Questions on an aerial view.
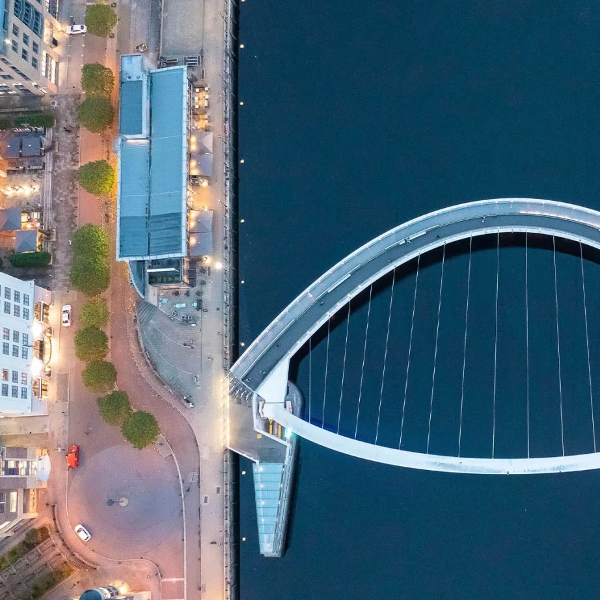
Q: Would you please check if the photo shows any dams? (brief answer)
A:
No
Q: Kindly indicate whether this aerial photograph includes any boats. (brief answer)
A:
No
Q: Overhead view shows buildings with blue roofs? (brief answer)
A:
Yes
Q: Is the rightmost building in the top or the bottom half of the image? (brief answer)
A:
bottom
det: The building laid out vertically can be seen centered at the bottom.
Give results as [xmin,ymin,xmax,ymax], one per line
[253,463,287,559]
